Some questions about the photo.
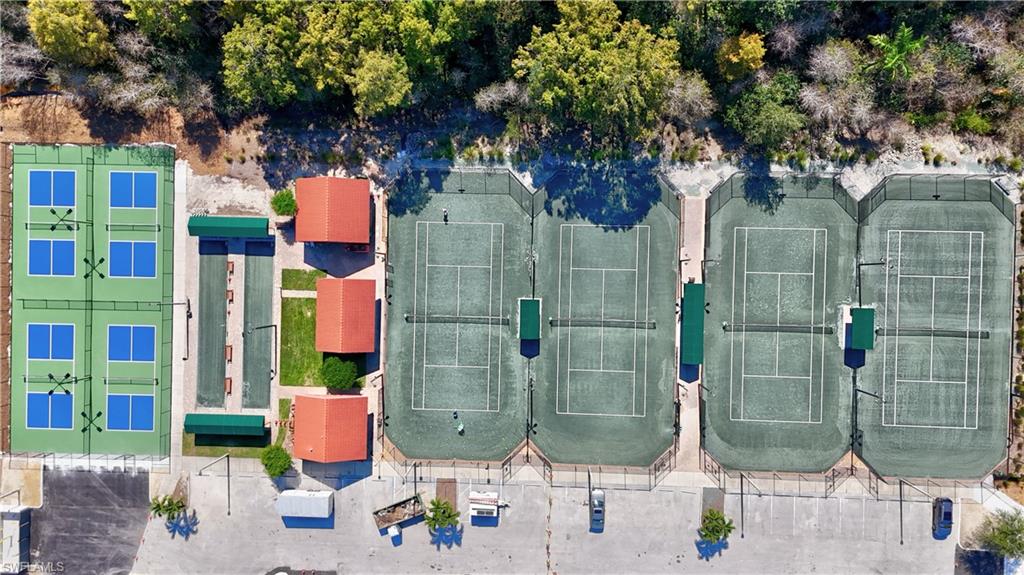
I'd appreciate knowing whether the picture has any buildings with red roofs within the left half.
Yes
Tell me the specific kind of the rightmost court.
tennis court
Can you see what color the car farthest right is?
blue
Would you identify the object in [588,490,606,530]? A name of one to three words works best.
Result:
car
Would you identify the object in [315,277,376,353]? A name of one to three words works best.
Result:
building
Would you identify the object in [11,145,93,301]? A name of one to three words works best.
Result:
sports court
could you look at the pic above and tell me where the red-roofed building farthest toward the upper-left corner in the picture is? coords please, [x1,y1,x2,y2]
[296,174,372,243]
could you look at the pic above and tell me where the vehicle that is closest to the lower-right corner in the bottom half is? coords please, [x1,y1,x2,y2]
[932,497,955,537]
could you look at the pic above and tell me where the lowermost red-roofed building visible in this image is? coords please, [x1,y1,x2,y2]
[295,394,369,463]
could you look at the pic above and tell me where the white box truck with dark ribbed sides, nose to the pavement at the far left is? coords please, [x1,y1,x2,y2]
[1,510,30,575]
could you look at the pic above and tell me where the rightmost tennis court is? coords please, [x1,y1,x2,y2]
[852,176,1016,480]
